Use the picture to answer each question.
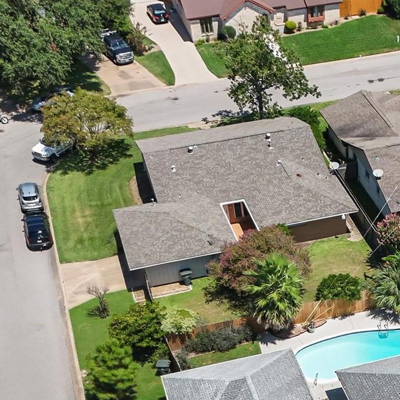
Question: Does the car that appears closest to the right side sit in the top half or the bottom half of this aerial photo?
top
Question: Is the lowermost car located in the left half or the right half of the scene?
left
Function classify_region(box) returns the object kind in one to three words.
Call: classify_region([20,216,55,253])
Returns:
car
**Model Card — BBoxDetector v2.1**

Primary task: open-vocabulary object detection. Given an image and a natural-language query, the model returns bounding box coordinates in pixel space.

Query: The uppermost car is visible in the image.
[144,1,170,23]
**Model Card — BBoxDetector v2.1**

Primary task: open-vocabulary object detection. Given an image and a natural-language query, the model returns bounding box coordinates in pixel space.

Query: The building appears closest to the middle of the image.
[113,117,359,291]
